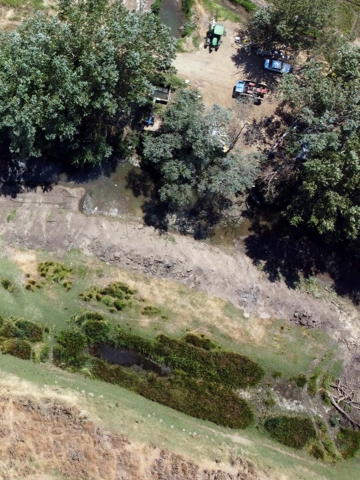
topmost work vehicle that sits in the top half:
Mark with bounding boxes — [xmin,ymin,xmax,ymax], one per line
[204,24,224,52]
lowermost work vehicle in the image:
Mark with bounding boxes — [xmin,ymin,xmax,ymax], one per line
[243,81,272,99]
